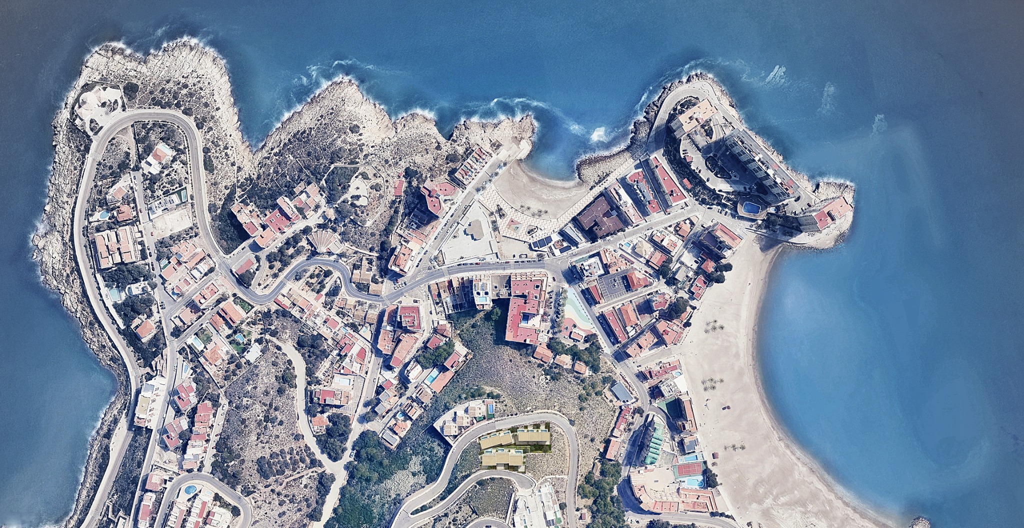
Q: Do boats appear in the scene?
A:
No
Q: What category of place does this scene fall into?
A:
residential area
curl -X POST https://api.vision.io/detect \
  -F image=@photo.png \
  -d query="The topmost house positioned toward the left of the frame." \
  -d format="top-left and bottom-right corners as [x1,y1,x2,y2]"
[76,86,110,120]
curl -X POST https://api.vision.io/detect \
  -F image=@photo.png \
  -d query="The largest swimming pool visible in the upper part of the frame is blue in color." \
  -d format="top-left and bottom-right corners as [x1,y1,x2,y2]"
[742,201,761,215]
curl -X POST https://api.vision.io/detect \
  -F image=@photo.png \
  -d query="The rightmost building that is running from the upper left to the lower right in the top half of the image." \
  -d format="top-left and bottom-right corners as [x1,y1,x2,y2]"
[730,129,801,200]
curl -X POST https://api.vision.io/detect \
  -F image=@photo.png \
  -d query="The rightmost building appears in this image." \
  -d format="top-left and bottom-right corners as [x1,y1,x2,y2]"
[800,197,853,232]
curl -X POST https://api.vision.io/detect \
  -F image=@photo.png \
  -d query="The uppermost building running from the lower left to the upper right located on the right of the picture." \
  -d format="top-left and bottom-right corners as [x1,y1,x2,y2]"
[670,98,718,138]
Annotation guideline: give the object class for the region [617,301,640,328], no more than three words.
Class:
house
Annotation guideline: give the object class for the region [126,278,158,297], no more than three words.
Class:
house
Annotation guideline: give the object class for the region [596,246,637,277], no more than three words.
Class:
building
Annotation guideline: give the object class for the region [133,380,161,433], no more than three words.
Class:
building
